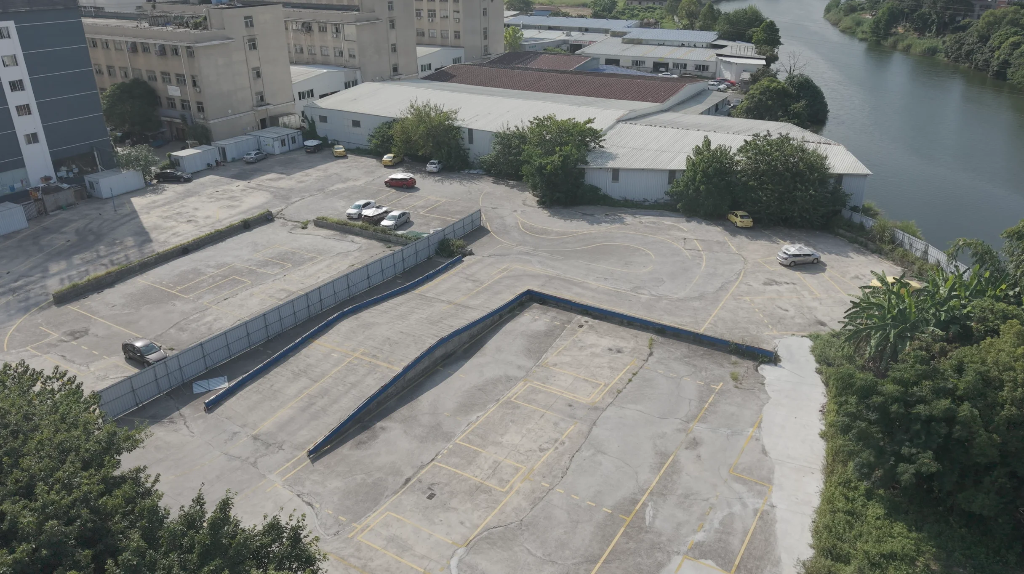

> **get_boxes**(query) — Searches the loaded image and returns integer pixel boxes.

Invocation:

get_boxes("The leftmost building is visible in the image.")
[0,202,28,235]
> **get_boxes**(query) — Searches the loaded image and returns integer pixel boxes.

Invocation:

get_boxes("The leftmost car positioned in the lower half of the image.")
[117,335,172,367]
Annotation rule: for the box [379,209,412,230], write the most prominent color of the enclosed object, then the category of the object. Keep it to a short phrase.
gray car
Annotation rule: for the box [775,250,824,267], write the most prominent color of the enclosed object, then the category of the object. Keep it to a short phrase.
gray car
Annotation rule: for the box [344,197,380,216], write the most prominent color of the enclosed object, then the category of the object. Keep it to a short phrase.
white car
